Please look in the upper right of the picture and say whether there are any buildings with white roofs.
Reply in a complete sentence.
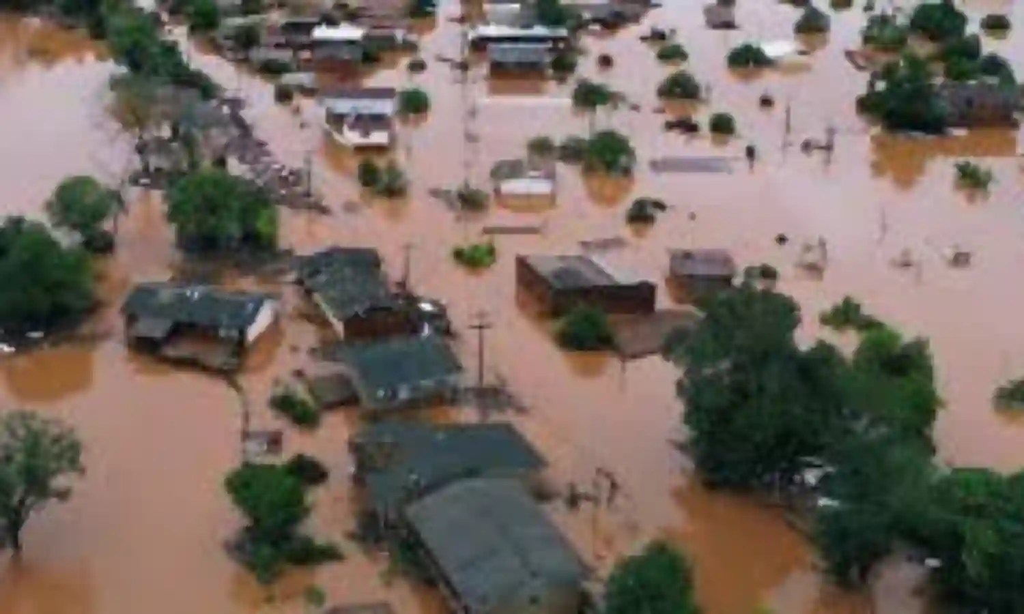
Yes, you'll find a building with a white roof in the upper right of the picture.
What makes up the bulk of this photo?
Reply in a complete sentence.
The bulk of the photo consists of water.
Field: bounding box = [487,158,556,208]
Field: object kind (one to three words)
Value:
house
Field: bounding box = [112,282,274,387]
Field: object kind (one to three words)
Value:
house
